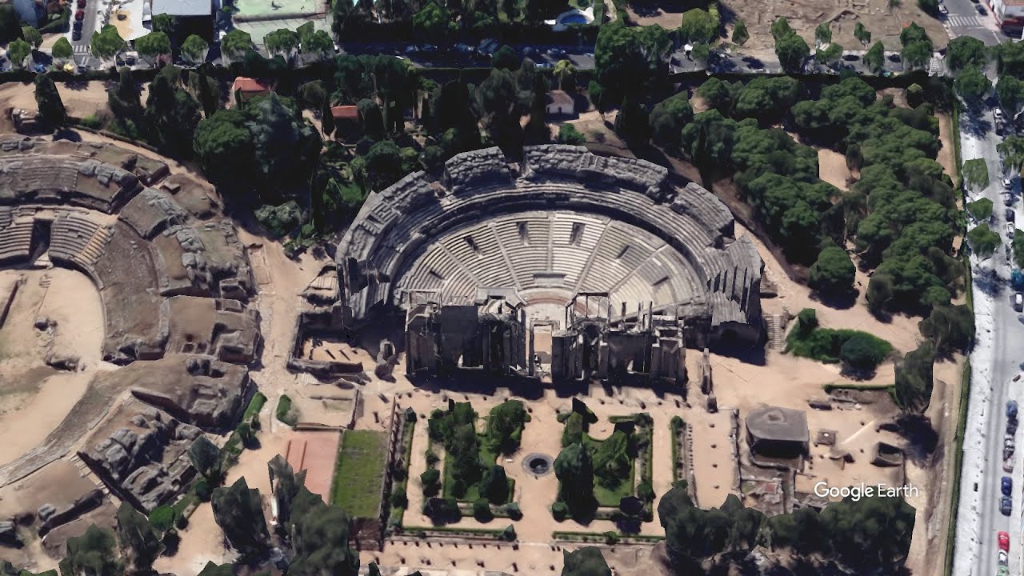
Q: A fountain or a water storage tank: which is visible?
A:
fountain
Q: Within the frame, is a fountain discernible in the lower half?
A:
Yes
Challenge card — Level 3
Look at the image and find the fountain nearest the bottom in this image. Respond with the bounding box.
[521,451,554,476]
